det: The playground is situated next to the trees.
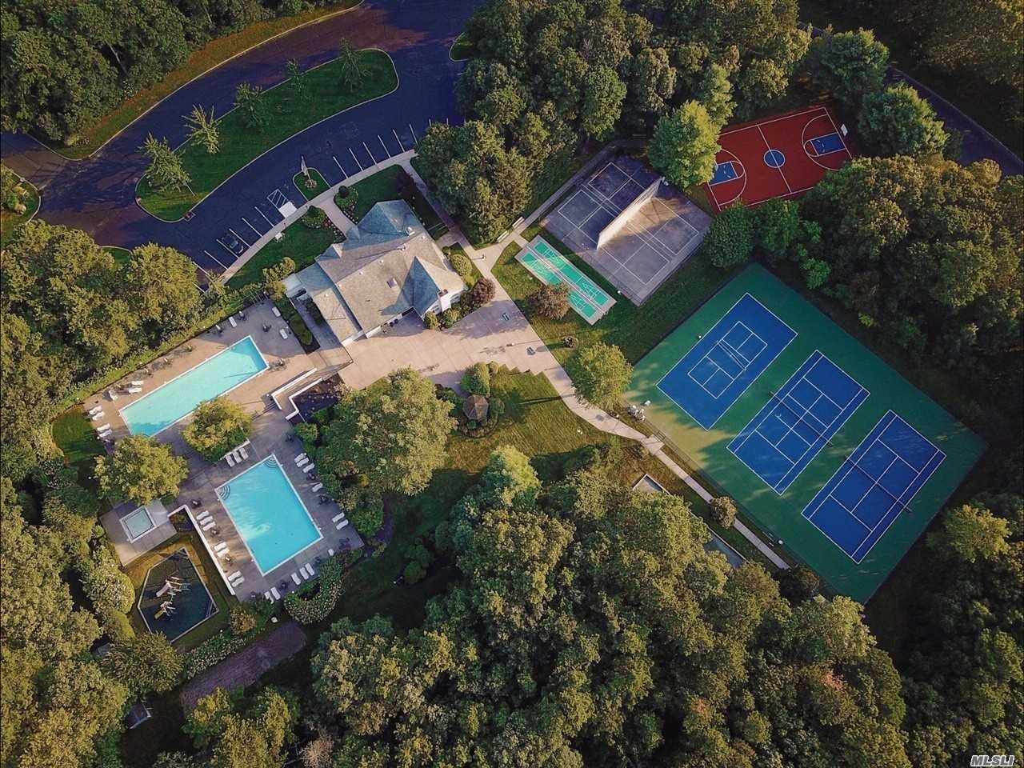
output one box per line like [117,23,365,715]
[136,546,220,637]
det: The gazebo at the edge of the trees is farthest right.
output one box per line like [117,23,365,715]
[464,397,489,425]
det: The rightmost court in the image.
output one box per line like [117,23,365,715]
[803,409,948,563]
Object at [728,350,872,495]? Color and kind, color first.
blue tennis court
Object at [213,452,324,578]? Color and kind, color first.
blue swimming pool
